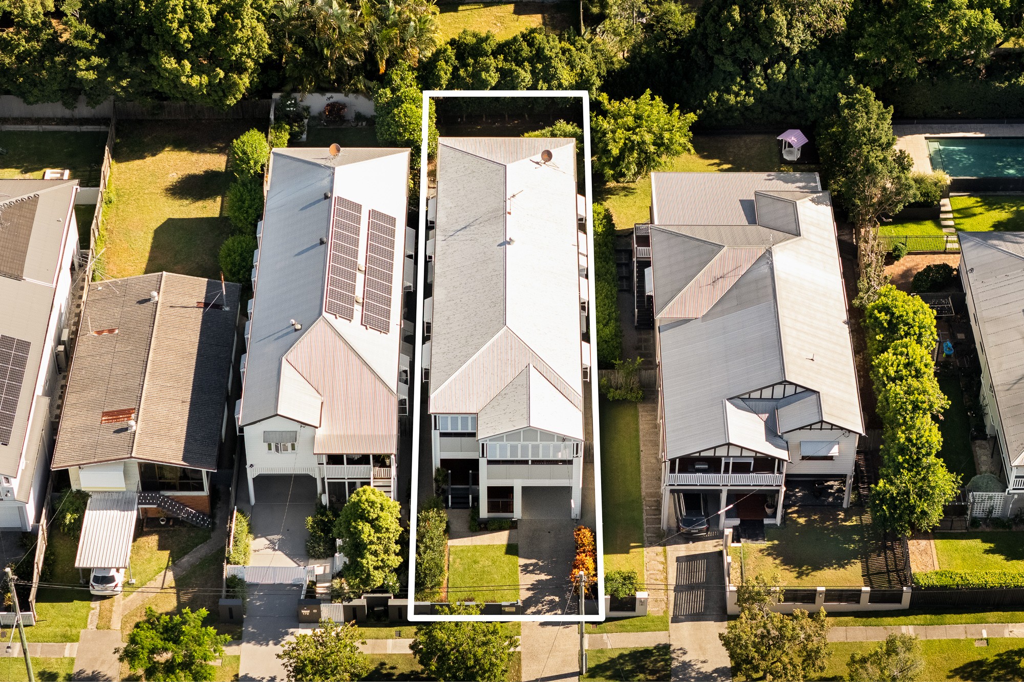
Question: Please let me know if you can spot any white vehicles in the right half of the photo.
No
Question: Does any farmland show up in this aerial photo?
No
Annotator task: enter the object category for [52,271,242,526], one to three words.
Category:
house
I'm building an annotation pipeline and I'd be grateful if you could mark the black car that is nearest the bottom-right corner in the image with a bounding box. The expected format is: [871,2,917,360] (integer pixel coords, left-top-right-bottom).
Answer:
[674,497,711,532]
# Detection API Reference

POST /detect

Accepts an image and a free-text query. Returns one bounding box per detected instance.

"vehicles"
[674,497,711,532]
[87,570,125,599]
